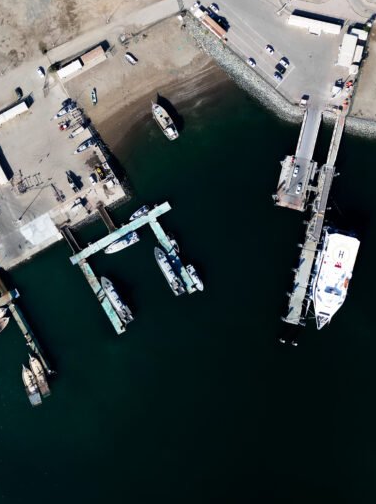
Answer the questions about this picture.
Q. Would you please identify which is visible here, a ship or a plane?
ship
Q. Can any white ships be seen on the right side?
Yes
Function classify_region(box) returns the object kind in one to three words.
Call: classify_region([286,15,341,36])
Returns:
shed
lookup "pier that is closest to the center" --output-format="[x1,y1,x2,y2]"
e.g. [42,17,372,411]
[60,202,196,334]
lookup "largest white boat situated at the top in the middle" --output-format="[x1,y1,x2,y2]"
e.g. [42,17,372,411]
[151,95,179,142]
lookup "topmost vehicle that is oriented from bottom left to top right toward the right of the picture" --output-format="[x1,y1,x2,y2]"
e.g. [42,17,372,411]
[330,84,343,99]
